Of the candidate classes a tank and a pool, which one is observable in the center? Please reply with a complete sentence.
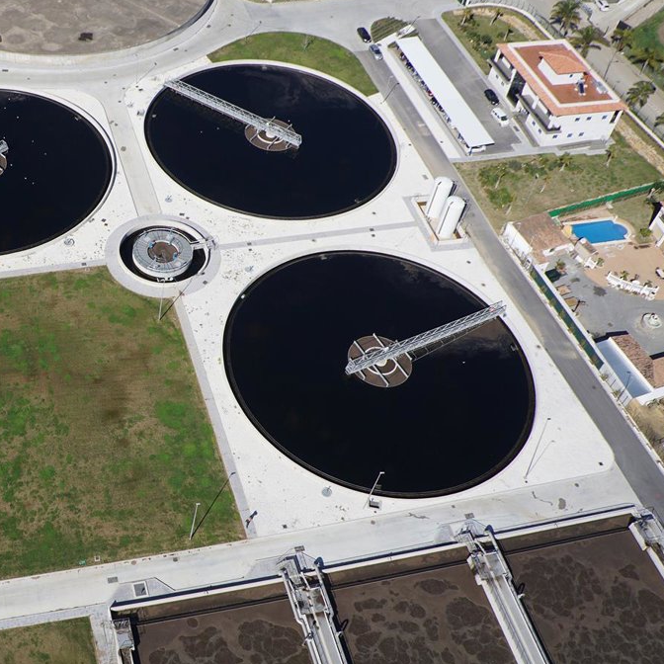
It is a tank that can be seen in the center.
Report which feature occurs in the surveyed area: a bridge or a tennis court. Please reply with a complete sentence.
Visible in the photo is a bridge.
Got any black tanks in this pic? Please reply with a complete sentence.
Yes, the frame does contain a black tank.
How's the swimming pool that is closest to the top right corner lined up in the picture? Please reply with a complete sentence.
From this overhead view, the swimming pool that is closest to the top right corner appears to run from side to side.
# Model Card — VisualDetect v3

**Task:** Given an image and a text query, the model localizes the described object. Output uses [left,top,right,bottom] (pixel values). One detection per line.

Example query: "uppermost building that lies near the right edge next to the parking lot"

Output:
[486,37,633,146]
